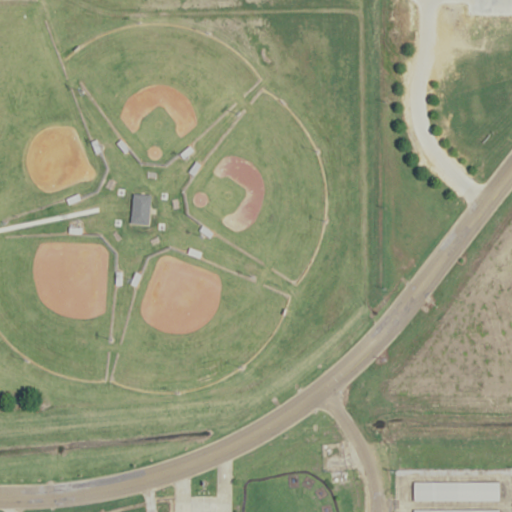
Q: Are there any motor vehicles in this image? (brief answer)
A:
No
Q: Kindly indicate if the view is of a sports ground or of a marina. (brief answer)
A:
sports ground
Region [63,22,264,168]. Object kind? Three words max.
baseball field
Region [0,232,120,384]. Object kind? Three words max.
baseball field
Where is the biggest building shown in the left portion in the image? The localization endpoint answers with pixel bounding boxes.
[130,193,152,226]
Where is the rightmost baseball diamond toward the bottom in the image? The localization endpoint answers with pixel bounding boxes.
[110,244,291,396]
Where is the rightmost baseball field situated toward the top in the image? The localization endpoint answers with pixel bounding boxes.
[181,86,330,286]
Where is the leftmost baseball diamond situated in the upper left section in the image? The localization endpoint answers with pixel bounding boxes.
[0,19,110,223]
